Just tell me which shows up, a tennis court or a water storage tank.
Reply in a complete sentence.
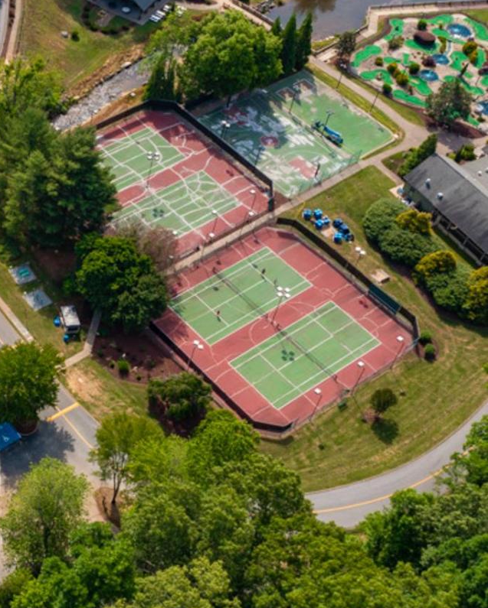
Of the two, only a tennis court appears.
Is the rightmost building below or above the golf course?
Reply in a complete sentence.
Relative to the golf course, the rightmost building lies below it.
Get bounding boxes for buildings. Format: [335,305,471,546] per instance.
[406,156,488,255]
[92,0,178,30]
